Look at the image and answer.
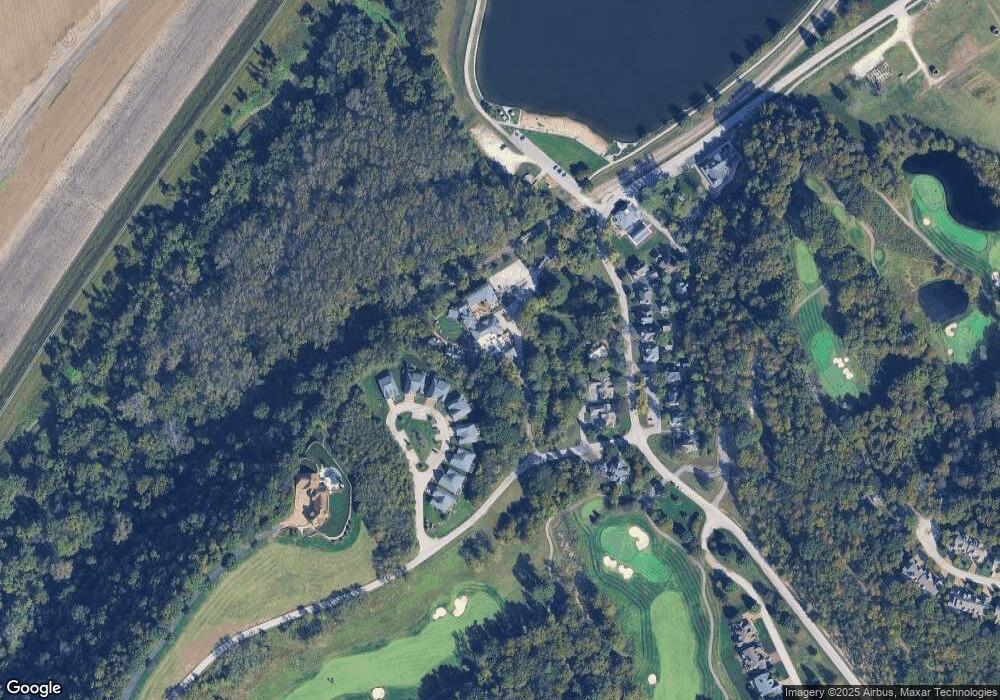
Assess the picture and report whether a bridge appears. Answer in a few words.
No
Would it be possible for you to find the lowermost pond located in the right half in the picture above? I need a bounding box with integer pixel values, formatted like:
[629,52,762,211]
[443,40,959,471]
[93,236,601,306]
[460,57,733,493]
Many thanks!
[919,279,969,322]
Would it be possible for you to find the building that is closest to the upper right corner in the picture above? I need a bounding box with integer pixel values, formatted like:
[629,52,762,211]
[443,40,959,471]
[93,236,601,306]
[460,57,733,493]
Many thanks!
[702,153,734,185]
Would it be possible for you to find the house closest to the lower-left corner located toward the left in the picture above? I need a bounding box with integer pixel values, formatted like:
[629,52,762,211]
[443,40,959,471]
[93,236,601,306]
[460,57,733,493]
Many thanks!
[301,470,332,527]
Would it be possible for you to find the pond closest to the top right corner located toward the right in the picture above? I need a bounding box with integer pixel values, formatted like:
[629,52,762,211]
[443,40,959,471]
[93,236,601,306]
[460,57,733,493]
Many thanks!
[901,149,1000,231]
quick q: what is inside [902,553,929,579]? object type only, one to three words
building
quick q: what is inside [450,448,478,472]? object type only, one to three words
house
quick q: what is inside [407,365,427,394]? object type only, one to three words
house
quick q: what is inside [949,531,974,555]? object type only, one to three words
building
